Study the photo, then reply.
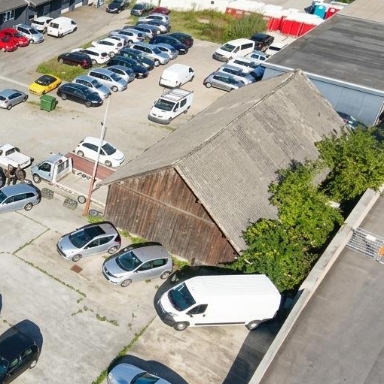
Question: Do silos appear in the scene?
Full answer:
No, no silo can be seen from above.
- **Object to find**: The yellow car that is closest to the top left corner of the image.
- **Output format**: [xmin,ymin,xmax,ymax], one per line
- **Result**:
[27,71,63,93]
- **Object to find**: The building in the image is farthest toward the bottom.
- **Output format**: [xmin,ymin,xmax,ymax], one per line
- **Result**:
[89,66,345,275]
